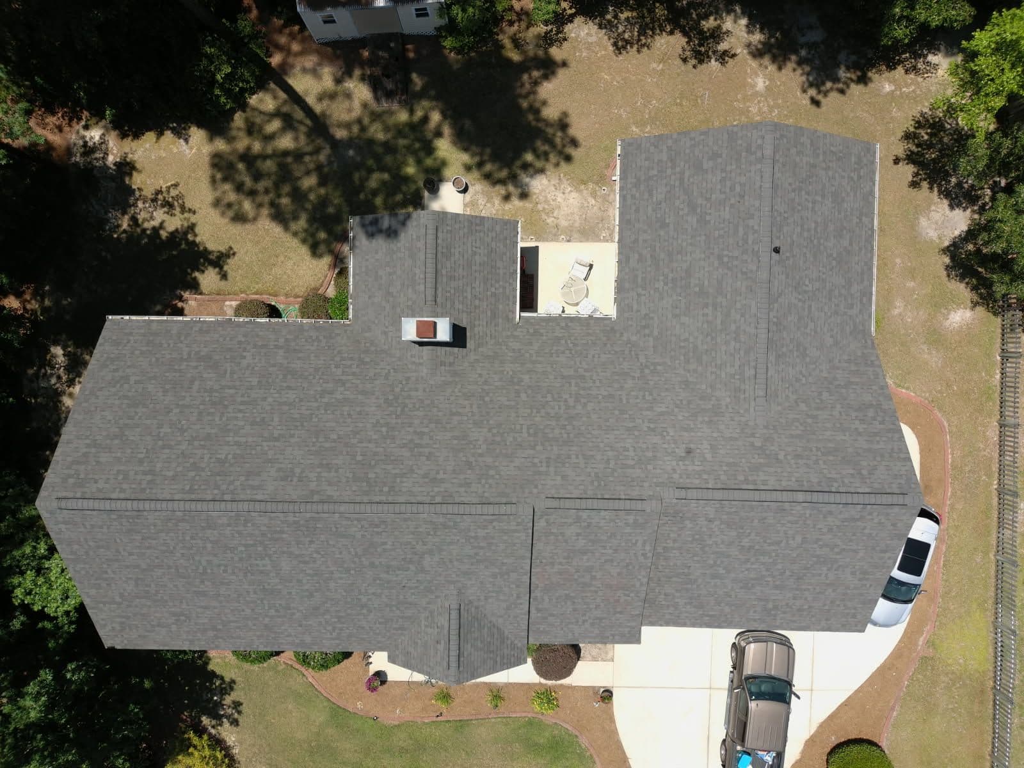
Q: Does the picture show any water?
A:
No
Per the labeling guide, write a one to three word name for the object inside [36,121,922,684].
house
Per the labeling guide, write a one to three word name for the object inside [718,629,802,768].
truck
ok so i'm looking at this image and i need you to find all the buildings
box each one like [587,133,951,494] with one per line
[291,0,448,44]
[36,121,922,684]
